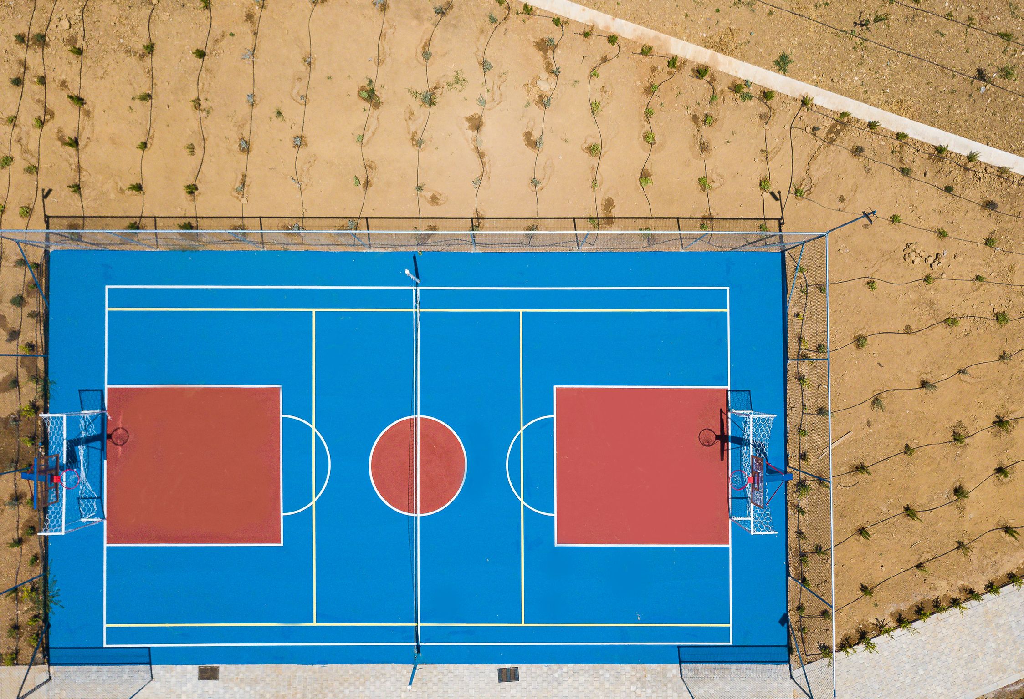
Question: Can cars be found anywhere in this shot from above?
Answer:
No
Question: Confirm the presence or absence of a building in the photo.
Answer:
No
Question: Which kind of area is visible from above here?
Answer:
sports ground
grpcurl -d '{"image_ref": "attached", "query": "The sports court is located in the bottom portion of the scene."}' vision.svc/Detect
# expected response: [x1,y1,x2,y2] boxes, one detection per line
[48,249,790,666]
